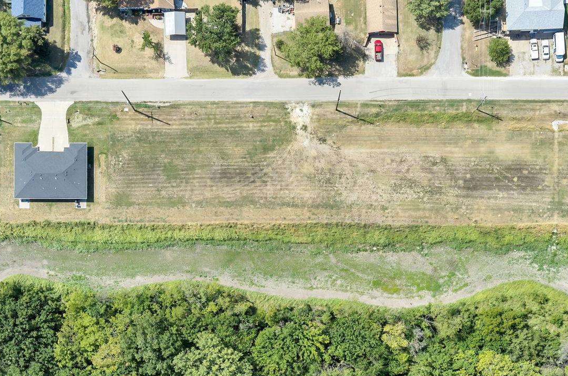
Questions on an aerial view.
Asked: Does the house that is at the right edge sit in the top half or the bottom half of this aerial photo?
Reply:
top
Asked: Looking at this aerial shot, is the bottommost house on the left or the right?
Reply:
left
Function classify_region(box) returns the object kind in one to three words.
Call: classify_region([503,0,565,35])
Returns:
house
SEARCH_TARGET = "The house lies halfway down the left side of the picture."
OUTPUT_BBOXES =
[14,142,89,200]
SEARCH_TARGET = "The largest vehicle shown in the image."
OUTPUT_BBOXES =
[553,29,567,63]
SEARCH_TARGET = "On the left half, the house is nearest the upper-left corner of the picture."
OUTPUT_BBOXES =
[12,0,49,31]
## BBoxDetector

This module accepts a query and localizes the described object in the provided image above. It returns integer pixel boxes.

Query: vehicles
[540,40,550,61]
[373,39,384,64]
[553,29,567,63]
[529,39,540,62]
